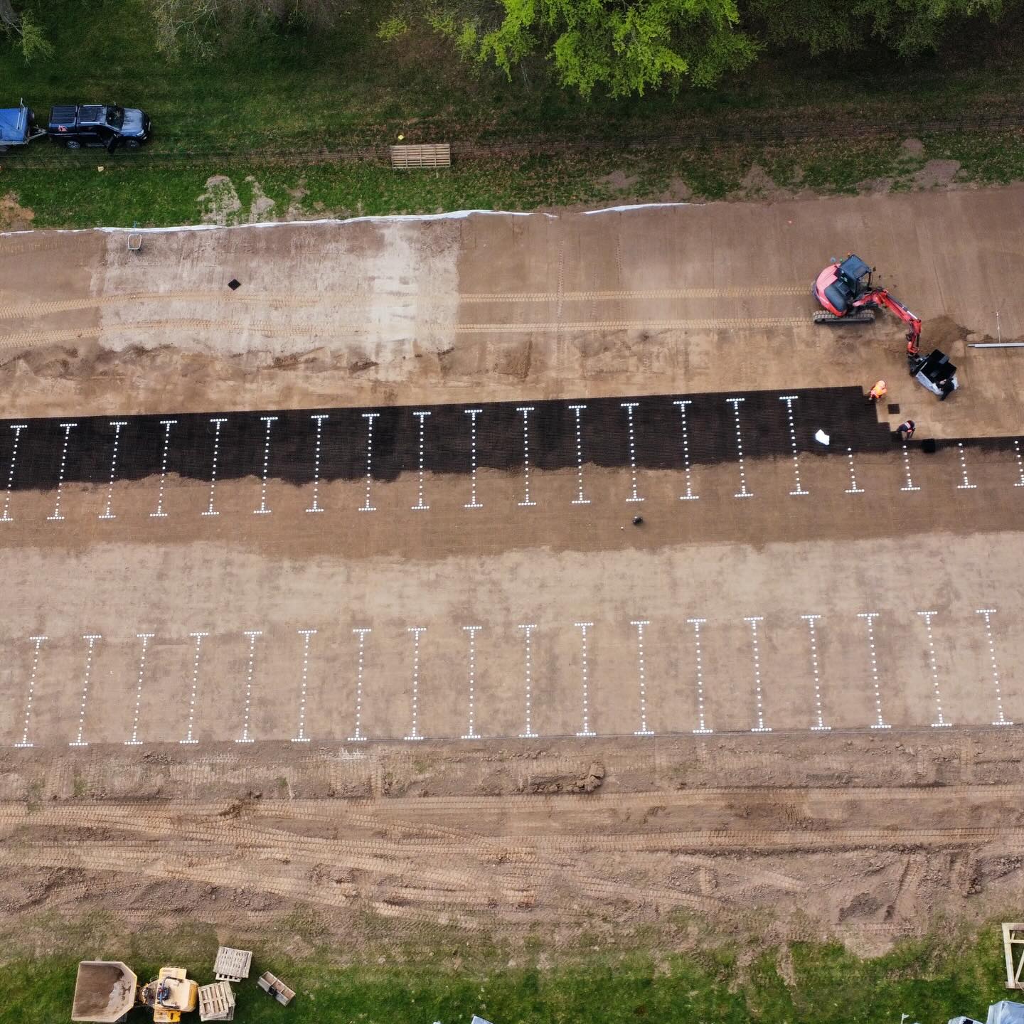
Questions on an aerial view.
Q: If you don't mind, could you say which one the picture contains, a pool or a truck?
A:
truck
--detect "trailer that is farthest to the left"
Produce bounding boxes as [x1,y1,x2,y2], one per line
[0,102,50,148]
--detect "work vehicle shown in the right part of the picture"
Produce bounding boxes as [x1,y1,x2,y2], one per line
[813,255,928,381]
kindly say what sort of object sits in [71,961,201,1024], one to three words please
truck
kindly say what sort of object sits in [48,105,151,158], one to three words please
truck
